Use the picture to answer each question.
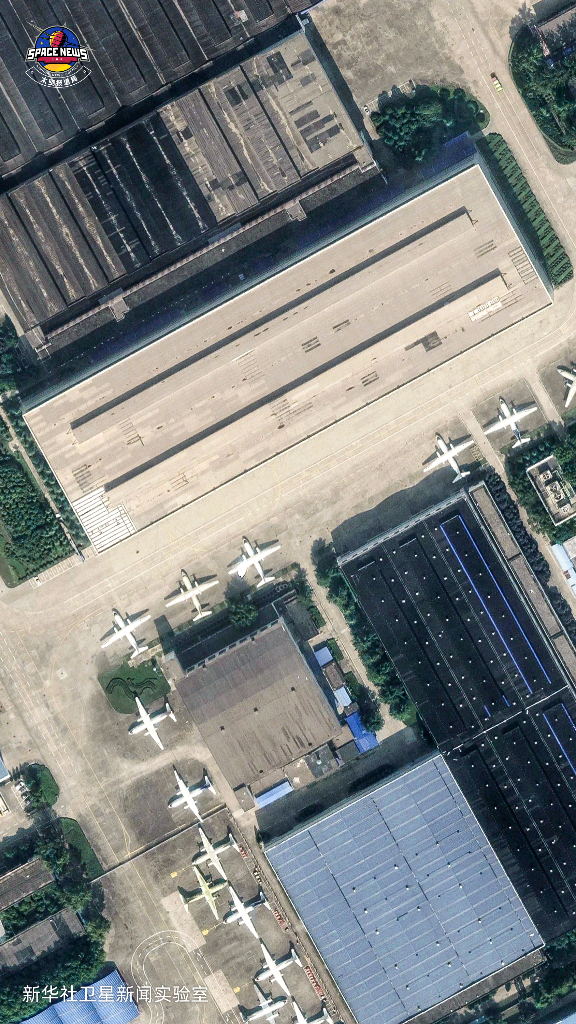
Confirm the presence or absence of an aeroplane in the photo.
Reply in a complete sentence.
Yes, there's an aeroplane here.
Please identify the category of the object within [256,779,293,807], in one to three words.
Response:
shed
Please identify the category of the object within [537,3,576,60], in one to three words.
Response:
building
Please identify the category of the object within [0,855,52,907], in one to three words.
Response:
house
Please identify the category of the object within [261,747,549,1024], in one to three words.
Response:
hangar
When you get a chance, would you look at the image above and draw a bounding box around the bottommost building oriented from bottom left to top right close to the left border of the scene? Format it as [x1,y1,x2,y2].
[0,904,83,977]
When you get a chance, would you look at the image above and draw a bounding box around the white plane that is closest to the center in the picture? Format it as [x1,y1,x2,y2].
[226,538,279,584]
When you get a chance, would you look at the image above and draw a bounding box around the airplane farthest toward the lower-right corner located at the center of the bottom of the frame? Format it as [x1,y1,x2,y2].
[289,1001,331,1024]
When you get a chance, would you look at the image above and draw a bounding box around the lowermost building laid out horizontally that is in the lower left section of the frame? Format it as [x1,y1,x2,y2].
[14,966,150,1024]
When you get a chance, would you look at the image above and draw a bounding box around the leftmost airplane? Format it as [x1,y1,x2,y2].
[100,610,150,654]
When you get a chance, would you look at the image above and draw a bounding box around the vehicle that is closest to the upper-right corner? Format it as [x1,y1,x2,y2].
[490,72,504,92]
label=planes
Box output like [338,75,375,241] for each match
[100,610,150,654]
[226,538,279,584]
[558,366,576,403]
[130,699,176,748]
[422,434,473,479]
[193,829,238,878]
[181,865,228,917]
[483,398,536,444]
[224,888,269,937]
[241,982,287,1024]
[255,946,301,996]
[169,772,214,822]
[164,571,218,617]
[289,1001,331,1024]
